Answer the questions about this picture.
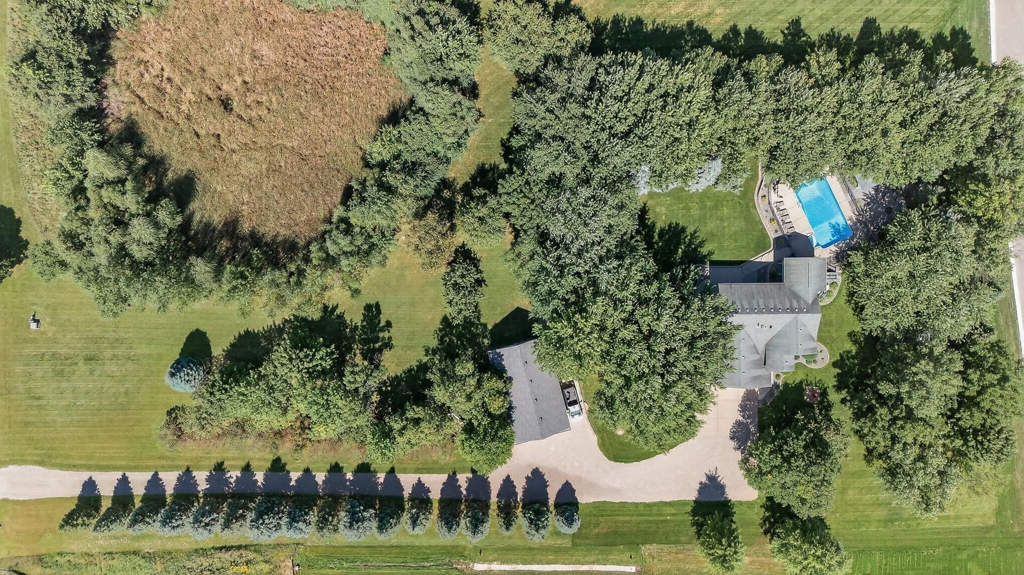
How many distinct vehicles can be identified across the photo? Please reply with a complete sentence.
My tally gives 1 vehicle in this photo.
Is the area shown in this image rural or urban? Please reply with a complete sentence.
The area shown here is rural.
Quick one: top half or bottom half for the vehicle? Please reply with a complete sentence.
It is in the bottom half that the vehicle appears.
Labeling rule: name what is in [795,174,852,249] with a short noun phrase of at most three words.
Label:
swimming pool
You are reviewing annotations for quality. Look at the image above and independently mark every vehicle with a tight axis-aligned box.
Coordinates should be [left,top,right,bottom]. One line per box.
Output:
[563,386,583,424]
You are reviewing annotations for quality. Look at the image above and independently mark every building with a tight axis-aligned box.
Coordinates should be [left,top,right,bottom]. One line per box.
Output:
[707,257,827,389]
[488,338,572,445]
